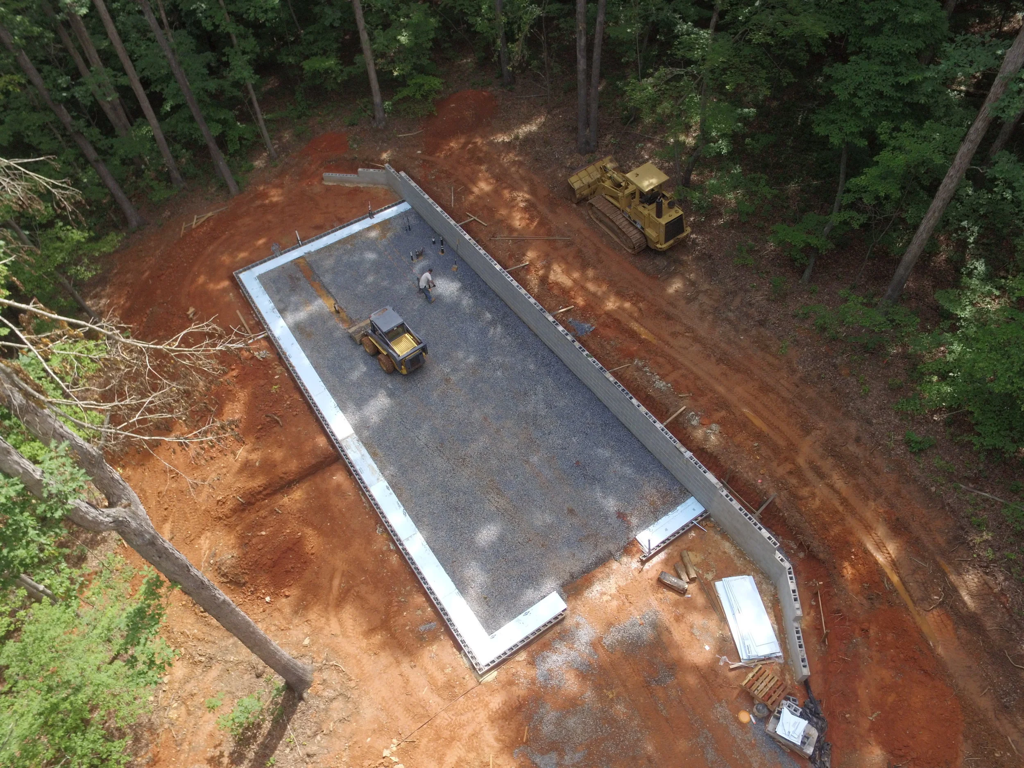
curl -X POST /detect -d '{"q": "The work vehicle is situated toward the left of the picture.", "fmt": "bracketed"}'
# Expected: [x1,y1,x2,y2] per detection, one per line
[346,306,423,377]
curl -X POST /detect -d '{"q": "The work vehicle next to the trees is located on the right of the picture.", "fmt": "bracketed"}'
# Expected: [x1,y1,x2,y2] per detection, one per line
[559,154,688,254]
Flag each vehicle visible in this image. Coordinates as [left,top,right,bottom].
[559,154,688,254]
[346,306,423,377]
